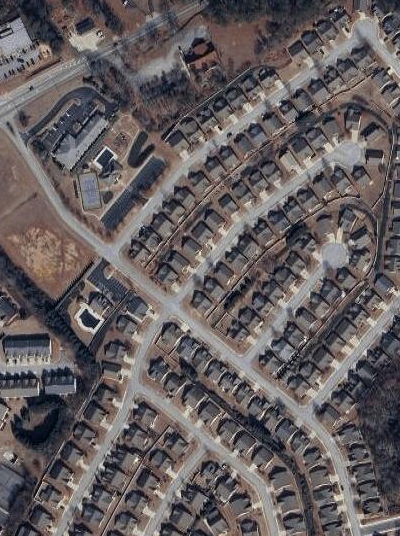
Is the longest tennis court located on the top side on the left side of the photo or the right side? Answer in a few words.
left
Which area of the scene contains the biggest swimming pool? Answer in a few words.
left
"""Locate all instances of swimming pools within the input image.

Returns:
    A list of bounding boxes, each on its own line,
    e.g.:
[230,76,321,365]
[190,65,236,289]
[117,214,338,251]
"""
[94,146,118,171]
[74,303,105,335]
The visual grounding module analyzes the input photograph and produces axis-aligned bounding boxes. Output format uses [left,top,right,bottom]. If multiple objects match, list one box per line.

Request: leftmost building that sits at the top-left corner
[0,19,32,59]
